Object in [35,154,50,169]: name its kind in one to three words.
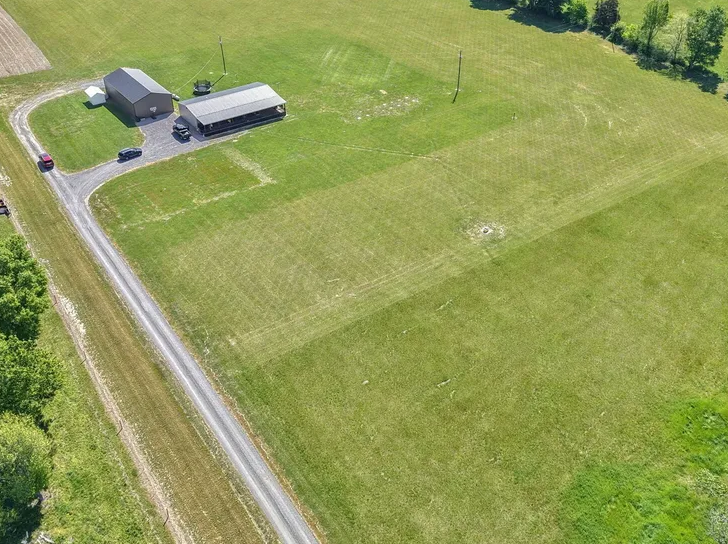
car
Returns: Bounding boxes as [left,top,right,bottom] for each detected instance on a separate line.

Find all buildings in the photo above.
[102,66,174,119]
[181,81,287,135]
[85,88,104,105]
